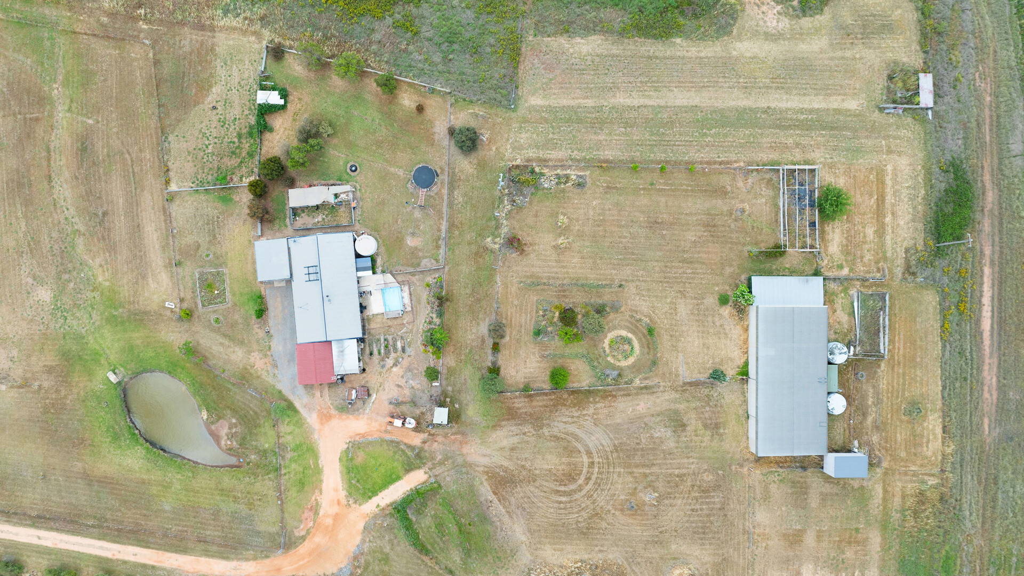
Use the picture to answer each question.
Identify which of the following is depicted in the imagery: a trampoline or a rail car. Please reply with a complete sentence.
I can see a trampoline in this picture.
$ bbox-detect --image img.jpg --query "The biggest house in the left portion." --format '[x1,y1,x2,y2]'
[253,232,363,344]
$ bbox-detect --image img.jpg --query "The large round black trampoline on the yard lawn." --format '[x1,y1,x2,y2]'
[412,164,437,189]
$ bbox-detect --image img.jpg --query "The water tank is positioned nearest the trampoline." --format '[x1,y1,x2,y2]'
[353,233,380,257]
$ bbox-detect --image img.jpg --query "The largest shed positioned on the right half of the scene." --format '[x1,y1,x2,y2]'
[748,305,828,457]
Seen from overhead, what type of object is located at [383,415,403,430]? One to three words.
work vehicle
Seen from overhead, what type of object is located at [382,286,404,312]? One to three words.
swimming pool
